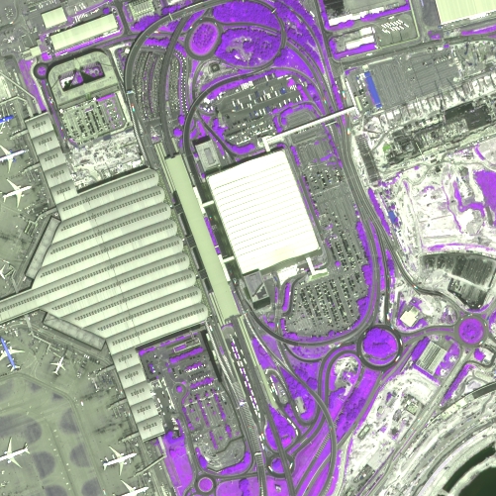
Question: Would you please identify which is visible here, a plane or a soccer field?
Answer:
plane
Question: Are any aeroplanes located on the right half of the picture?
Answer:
No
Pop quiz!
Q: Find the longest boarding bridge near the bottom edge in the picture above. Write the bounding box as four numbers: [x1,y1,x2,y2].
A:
[134,437,167,478]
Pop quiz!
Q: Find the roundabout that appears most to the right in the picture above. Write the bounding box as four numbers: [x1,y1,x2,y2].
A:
[454,313,489,348]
